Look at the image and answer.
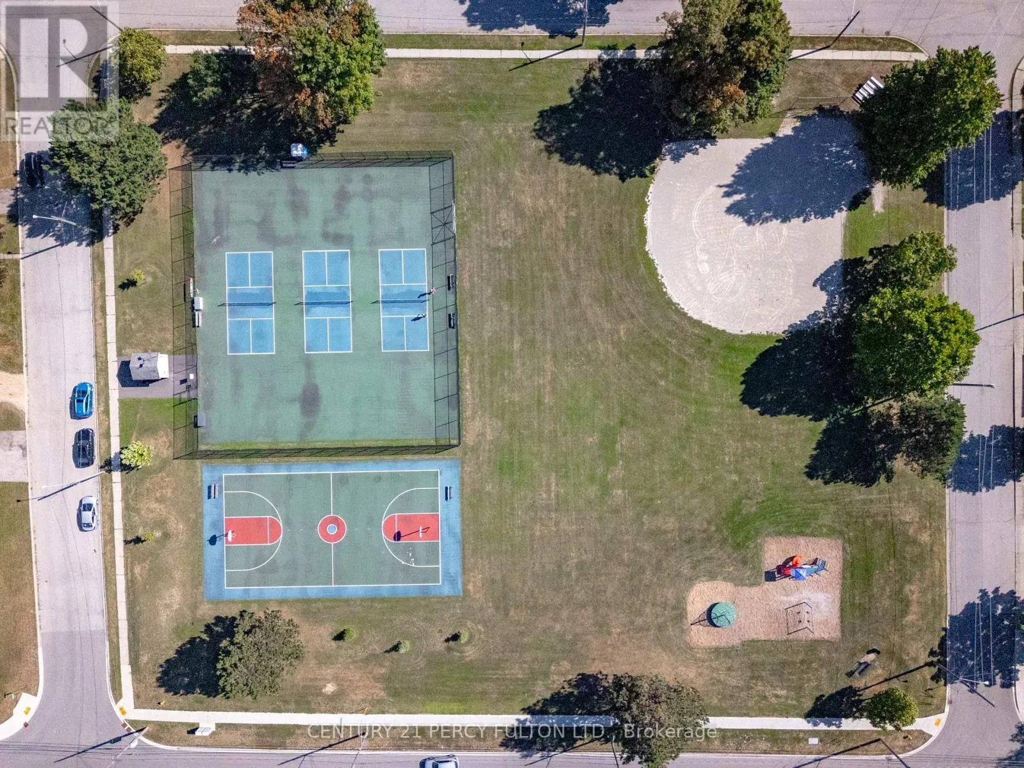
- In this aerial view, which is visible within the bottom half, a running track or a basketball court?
basketball court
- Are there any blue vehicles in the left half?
Yes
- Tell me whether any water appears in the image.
No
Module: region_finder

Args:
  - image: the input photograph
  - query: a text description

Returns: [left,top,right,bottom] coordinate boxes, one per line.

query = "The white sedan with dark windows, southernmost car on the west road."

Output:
[79,496,99,532]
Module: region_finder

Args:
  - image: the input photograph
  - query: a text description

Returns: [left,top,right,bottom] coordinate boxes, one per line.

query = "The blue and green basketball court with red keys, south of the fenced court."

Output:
[202,459,462,600]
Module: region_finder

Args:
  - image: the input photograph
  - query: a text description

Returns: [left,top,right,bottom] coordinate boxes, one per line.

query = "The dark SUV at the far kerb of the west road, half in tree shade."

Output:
[20,149,43,187]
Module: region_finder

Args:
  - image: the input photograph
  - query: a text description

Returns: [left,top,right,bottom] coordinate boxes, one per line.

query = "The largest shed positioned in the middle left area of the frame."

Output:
[127,352,168,380]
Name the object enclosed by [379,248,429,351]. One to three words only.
sports court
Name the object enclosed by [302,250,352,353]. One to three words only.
sports court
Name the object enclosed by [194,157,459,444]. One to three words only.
tennis court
